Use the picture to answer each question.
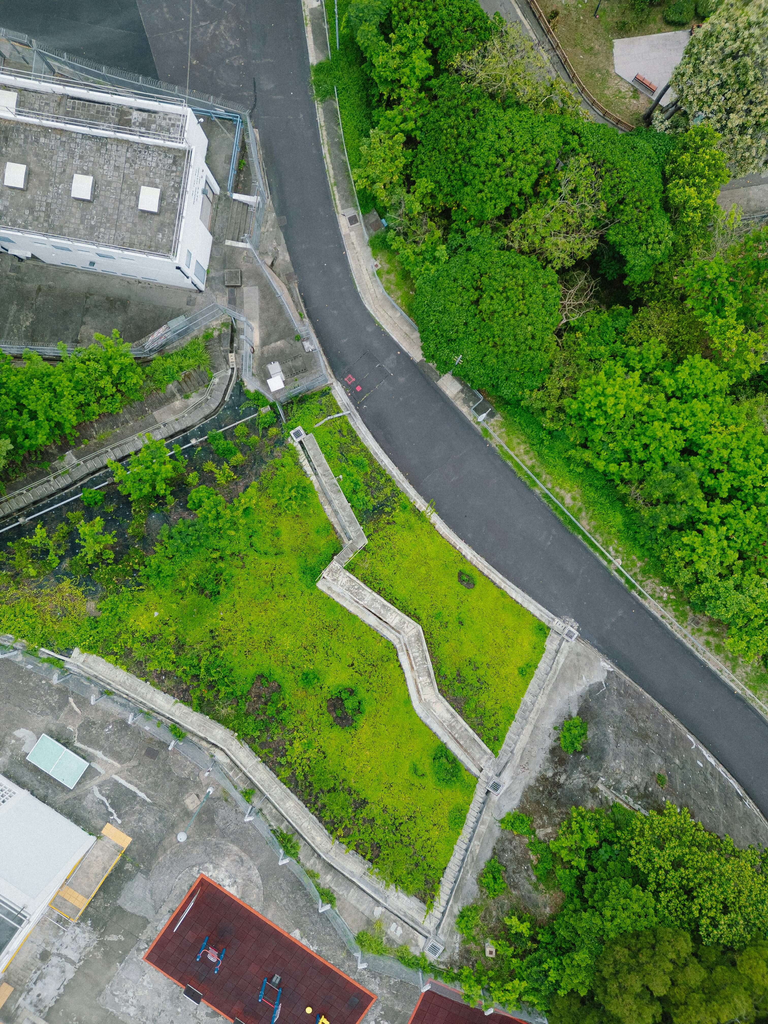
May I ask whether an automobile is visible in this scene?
No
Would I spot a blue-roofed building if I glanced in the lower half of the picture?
No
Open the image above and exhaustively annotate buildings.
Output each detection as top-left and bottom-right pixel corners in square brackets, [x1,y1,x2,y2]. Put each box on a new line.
[0,68,220,293]
[0,768,101,958]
